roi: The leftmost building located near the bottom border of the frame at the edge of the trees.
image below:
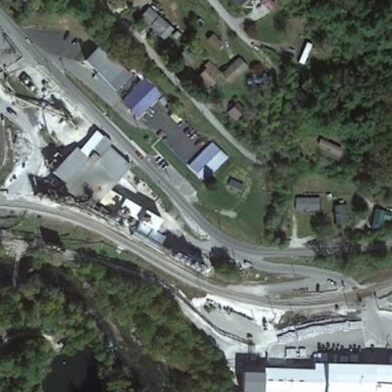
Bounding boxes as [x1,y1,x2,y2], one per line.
[244,372,265,392]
